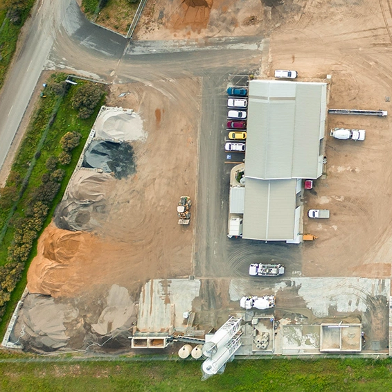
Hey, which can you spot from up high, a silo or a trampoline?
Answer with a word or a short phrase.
silo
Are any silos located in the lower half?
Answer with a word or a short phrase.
Yes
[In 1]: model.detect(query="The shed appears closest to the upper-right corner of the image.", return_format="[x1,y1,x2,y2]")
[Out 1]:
[244,79,326,180]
